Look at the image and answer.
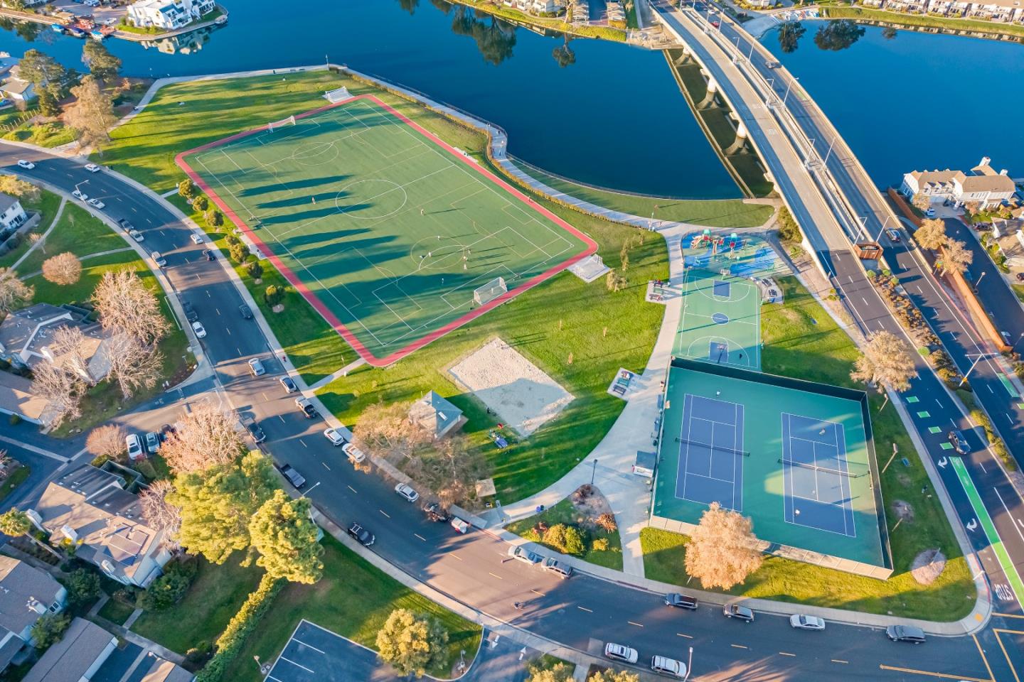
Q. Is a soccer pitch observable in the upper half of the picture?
Yes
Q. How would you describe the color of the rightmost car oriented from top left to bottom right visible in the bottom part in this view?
blue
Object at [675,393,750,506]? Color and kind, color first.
blue tennis court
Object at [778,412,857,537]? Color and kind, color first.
blue tennis court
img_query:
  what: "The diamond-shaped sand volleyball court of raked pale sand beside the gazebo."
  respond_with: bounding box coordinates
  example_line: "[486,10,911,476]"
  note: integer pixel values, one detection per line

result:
[443,336,575,439]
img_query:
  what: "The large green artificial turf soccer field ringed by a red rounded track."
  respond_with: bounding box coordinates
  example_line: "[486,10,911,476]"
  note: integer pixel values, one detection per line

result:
[175,94,597,368]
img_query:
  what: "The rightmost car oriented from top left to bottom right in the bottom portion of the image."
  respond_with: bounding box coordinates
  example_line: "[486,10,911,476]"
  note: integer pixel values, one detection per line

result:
[945,430,972,455]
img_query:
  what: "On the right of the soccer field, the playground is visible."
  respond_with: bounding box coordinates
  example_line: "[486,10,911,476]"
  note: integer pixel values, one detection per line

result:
[681,232,794,279]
